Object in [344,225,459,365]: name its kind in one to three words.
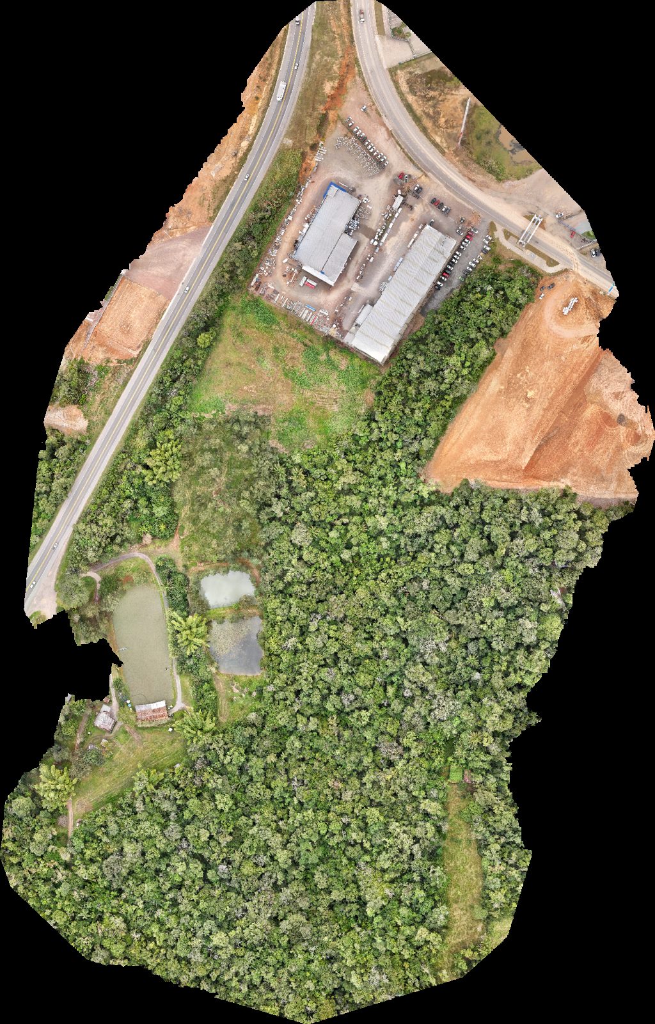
building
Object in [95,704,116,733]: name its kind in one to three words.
house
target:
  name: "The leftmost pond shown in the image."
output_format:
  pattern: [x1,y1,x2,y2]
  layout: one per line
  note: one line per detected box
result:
[113,585,172,706]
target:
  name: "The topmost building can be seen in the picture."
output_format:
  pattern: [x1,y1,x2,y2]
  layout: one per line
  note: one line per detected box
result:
[293,181,361,286]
